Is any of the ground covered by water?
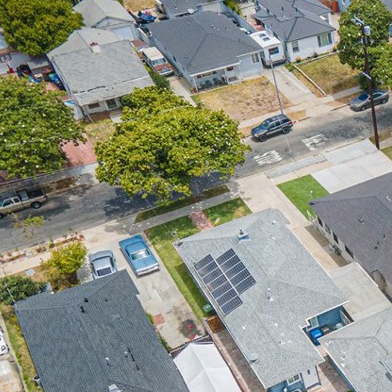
No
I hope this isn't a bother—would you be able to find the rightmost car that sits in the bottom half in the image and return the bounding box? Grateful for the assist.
[120,232,160,275]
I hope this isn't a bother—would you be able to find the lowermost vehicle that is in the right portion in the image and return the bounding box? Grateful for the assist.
[247,112,295,142]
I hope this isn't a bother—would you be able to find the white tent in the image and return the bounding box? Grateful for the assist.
[173,344,241,392]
